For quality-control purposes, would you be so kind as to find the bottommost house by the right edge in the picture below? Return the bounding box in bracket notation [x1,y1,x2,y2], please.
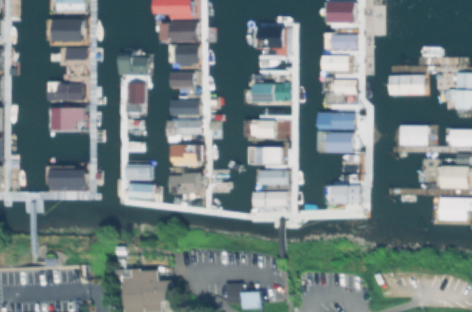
[434,196,472,224]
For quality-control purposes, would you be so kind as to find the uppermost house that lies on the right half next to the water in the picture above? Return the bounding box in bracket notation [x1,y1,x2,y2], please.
[326,0,358,22]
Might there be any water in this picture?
Yes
